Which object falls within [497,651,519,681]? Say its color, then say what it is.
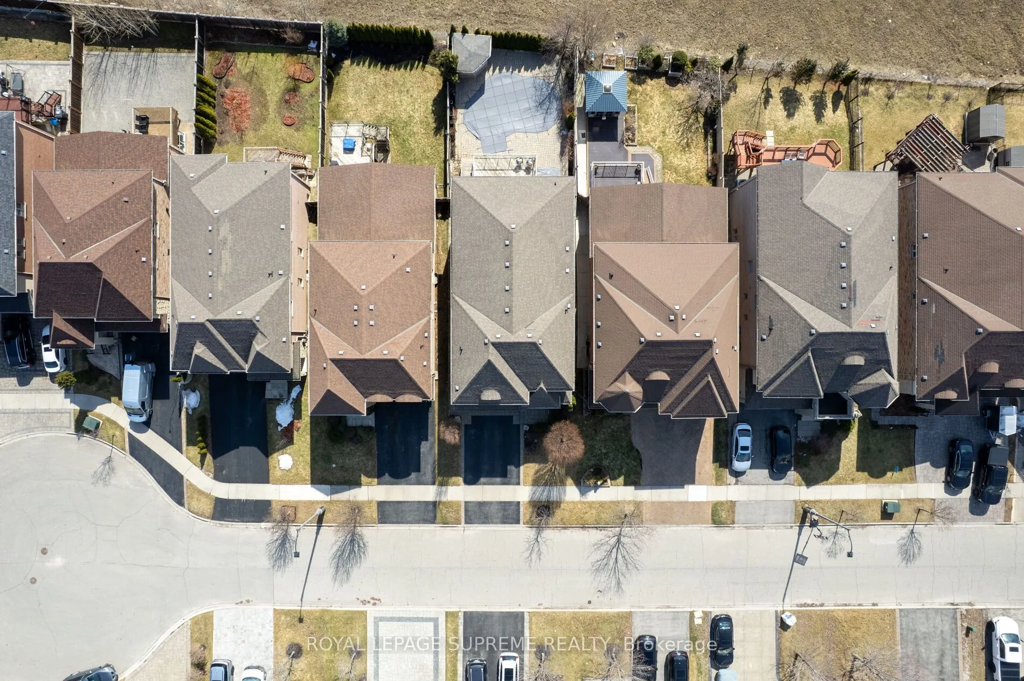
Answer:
white car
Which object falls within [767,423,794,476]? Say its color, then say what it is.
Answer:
black car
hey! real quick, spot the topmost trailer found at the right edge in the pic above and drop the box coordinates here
[981,404,1017,443]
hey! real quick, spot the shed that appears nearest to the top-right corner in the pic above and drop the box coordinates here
[965,103,1006,144]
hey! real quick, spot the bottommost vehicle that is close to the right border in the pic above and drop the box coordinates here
[985,618,1021,681]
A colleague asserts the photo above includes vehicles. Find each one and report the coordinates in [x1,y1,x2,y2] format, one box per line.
[466,657,487,681]
[0,316,37,374]
[209,658,235,681]
[39,325,72,373]
[985,618,1021,681]
[634,634,660,681]
[497,651,519,681]
[709,614,736,669]
[976,442,1013,507]
[767,423,794,476]
[65,661,121,681]
[665,649,688,681]
[121,359,158,422]
[728,421,755,474]
[944,436,976,490]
